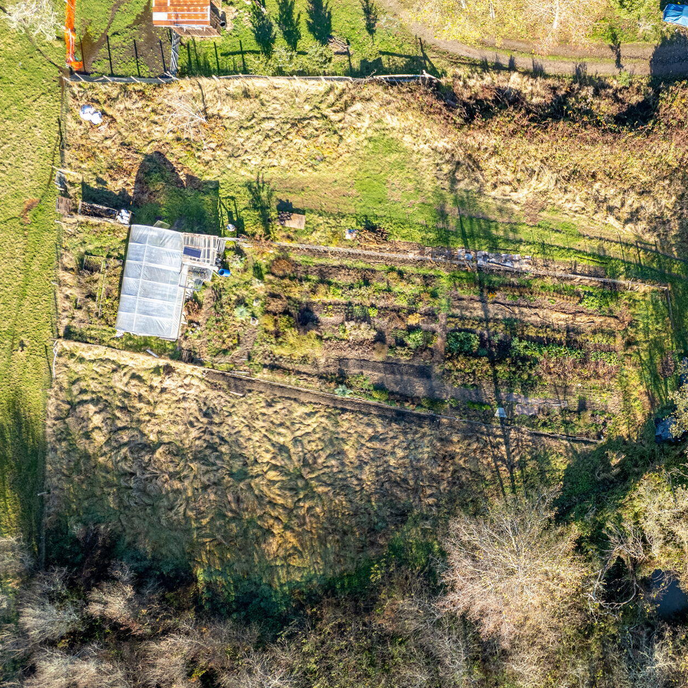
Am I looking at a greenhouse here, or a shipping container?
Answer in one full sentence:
There is a greenhouse in the scene.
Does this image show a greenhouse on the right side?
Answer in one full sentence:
No, I can find no greenhouse on the right side.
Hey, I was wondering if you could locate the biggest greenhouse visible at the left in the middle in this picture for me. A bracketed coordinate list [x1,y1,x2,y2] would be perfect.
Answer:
[121,223,187,340]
